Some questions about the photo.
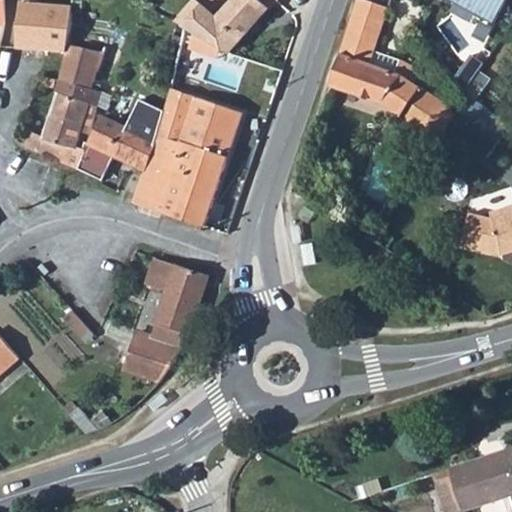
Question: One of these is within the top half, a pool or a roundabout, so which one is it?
pool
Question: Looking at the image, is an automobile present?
Yes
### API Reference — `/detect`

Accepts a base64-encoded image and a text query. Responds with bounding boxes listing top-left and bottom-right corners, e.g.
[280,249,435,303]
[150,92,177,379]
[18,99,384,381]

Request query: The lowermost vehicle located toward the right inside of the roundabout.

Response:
[302,388,334,403]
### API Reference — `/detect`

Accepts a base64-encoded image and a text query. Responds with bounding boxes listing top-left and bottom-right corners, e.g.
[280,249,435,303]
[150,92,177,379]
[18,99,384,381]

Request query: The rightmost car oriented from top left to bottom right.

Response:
[270,289,288,310]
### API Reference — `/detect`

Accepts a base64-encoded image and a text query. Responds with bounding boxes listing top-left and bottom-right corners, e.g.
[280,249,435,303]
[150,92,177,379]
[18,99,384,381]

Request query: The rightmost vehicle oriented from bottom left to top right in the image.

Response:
[166,410,188,428]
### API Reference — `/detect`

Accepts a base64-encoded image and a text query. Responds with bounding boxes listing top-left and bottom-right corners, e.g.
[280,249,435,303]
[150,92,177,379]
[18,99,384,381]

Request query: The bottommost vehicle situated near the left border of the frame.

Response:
[1,480,24,494]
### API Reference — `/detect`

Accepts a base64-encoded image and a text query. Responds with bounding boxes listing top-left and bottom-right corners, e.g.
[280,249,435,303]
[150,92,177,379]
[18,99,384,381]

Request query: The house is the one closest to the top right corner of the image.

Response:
[450,0,506,42]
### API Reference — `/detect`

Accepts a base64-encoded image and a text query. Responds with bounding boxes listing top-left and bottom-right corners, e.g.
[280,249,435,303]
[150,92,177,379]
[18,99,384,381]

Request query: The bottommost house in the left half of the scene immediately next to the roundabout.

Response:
[120,258,210,386]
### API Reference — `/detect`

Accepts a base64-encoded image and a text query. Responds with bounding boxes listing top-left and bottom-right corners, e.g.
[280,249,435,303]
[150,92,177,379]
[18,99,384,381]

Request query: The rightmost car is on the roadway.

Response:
[457,353,480,365]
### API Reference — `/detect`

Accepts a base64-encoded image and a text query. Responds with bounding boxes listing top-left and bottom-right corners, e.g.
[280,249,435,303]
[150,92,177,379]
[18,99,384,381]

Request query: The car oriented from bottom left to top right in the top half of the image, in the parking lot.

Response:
[5,154,22,175]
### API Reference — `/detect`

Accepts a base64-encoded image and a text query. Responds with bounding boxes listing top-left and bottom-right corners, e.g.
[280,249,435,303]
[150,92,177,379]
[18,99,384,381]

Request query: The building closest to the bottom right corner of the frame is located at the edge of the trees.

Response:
[433,438,512,512]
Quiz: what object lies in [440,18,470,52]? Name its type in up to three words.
swimming pool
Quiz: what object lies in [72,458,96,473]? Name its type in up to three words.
car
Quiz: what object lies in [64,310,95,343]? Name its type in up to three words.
shed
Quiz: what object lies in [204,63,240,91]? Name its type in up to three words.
swimming pool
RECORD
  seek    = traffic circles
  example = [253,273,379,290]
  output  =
[222,304,343,430]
